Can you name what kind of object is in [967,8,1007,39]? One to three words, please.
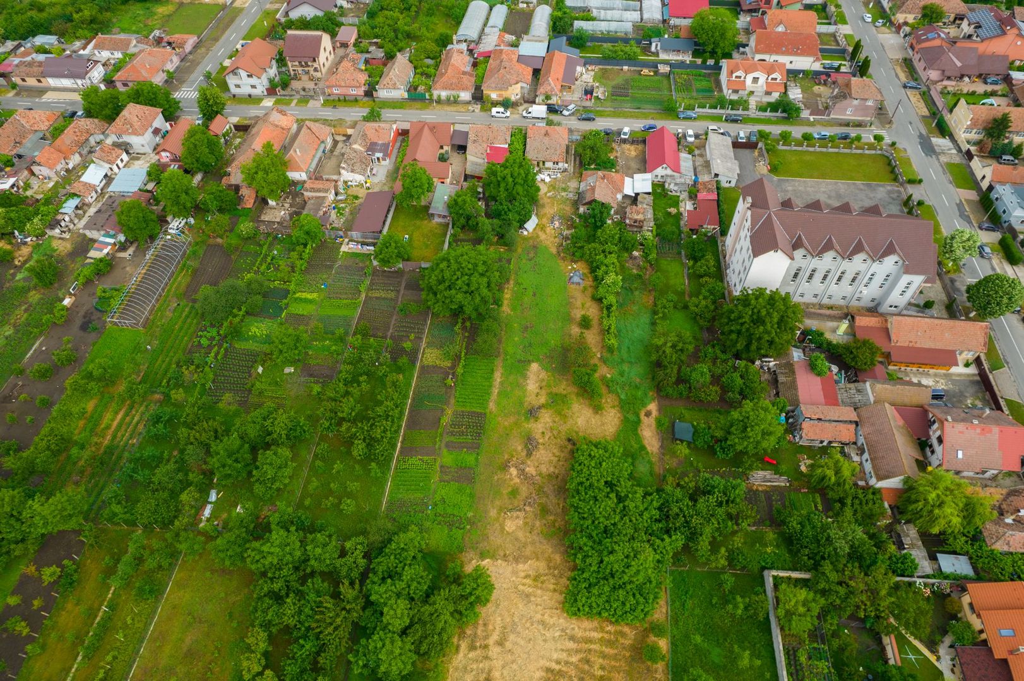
solar panel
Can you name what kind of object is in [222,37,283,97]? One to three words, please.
house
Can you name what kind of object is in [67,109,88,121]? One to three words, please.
vehicle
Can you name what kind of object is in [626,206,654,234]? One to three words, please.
shed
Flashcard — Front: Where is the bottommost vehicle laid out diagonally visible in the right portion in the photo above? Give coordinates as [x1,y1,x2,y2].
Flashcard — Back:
[927,378,952,401]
